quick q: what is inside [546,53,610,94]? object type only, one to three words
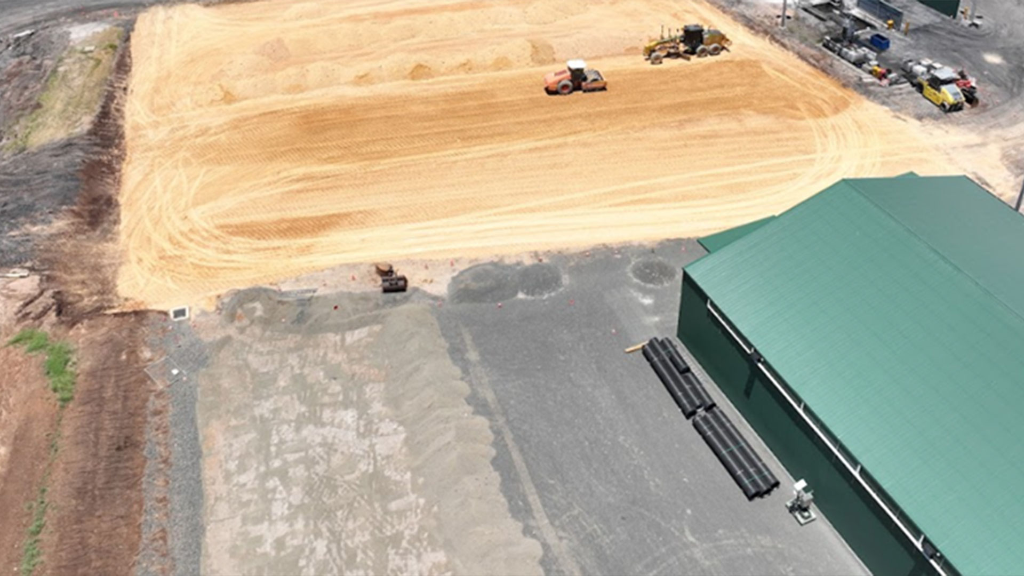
work vehicle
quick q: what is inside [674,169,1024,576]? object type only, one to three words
shed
